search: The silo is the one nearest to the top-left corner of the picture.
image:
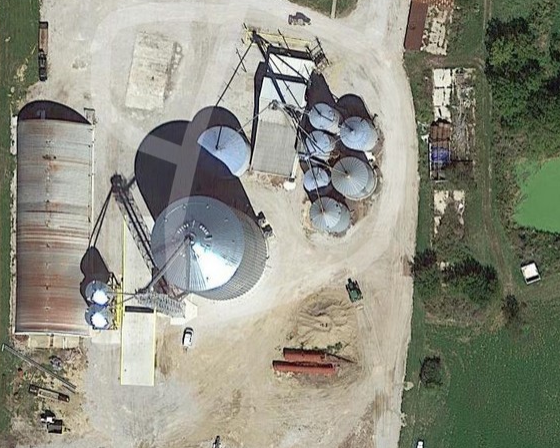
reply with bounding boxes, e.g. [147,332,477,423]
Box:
[198,124,253,179]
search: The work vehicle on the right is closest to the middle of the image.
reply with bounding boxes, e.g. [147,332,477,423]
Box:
[348,276,362,300]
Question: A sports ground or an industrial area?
industrial area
